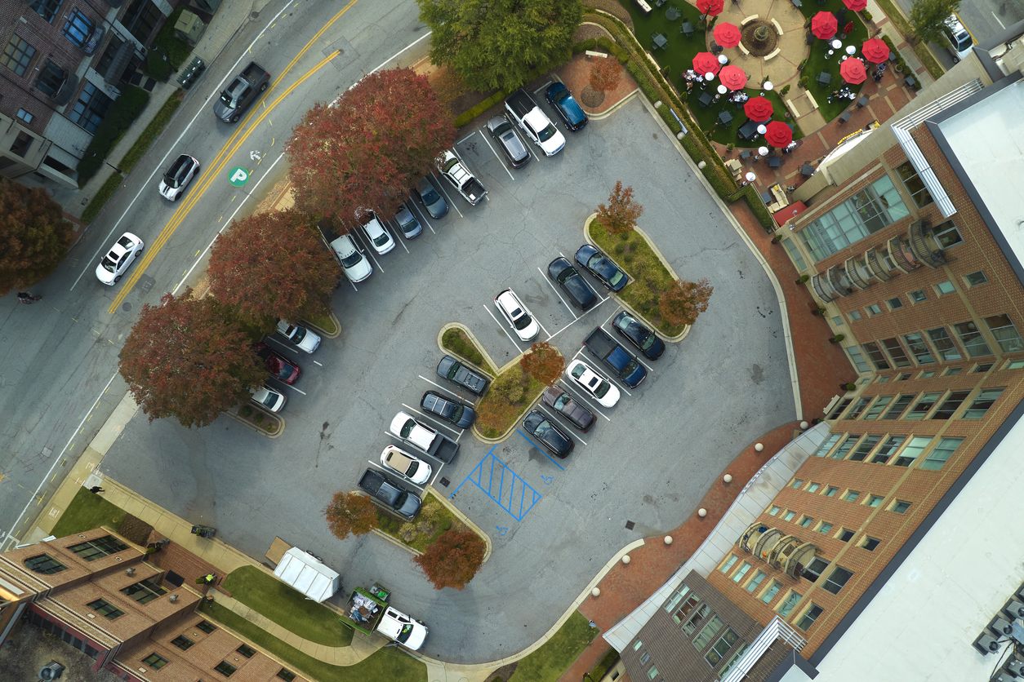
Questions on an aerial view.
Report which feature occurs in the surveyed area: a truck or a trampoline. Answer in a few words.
truck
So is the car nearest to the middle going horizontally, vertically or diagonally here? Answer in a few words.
diagonally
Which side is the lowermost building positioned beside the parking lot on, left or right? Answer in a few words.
left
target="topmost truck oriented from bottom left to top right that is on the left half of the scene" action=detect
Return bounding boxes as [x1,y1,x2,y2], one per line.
[214,57,271,120]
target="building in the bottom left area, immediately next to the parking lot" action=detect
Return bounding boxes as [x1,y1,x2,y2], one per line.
[0,526,311,682]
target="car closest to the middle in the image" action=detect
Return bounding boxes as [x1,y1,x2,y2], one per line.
[495,288,537,340]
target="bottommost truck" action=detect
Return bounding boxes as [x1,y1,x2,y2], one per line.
[340,586,428,651]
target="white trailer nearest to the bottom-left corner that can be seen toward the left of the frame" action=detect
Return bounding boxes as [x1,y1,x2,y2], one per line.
[266,537,345,606]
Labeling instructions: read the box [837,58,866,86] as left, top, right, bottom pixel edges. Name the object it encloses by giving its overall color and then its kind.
red umbrella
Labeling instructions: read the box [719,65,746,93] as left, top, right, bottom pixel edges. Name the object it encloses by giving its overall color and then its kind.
red umbrella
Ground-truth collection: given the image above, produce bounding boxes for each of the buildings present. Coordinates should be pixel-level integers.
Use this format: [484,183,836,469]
[0,0,178,200]
[592,69,1024,682]
[0,526,311,682]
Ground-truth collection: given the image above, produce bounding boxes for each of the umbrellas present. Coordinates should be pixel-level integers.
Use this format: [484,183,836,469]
[692,52,720,79]
[839,0,867,13]
[714,23,742,51]
[695,0,723,20]
[763,121,792,149]
[809,13,837,42]
[719,65,746,93]
[837,58,866,86]
[861,39,889,65]
[744,96,772,123]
